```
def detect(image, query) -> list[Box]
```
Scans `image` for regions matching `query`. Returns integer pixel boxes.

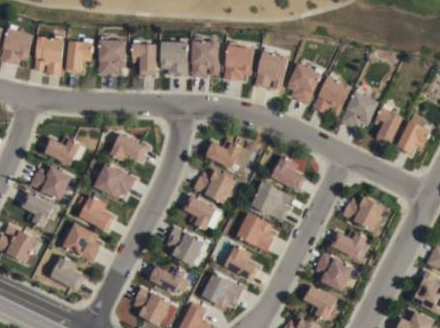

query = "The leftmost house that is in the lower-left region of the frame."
[0,223,39,264]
